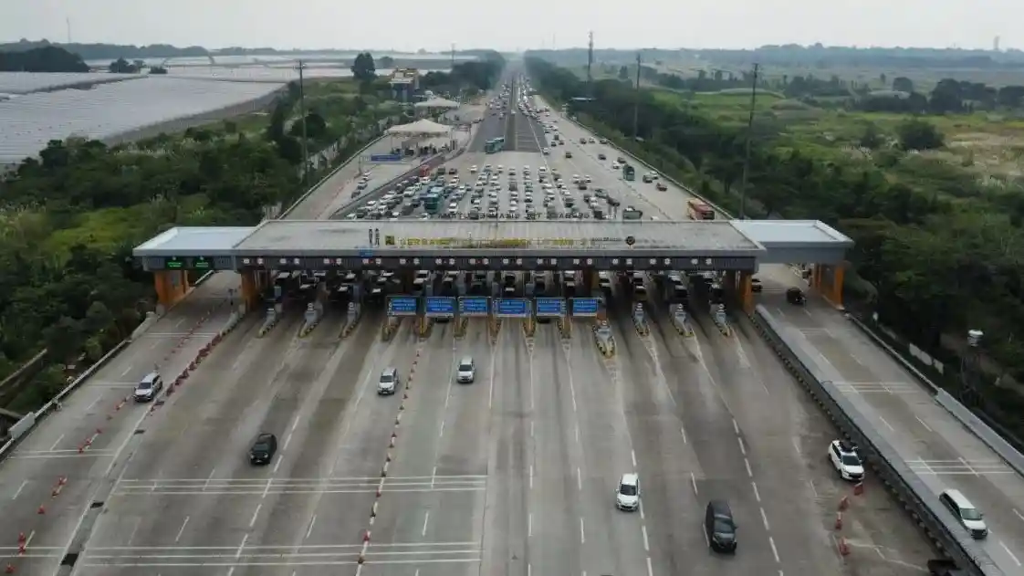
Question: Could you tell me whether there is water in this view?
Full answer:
No, the picture contains no water.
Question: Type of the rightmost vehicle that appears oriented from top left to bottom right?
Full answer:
It turns out the rightmost vehicle that appears oriented from top left to bottom right is a car.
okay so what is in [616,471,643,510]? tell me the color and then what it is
white car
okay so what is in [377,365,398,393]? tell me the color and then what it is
gray car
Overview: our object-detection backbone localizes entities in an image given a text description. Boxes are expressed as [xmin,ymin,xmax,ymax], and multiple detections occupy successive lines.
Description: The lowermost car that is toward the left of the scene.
[248,427,279,463]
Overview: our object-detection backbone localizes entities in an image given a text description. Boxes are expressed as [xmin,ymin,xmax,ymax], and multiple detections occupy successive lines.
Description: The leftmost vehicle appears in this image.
[133,371,163,399]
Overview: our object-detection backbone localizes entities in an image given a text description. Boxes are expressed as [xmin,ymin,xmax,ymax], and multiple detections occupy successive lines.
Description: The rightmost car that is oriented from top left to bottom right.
[935,481,998,533]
